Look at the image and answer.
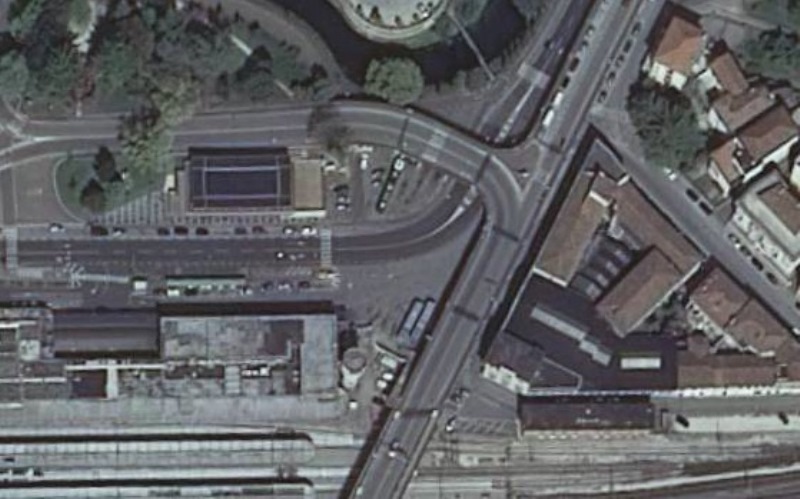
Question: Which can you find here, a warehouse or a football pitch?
warehouse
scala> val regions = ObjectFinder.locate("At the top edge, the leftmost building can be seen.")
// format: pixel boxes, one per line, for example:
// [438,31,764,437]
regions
[642,14,708,93]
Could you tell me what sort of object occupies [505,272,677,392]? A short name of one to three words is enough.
warehouse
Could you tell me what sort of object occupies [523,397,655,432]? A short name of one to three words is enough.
shed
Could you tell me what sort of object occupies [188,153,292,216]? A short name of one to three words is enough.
building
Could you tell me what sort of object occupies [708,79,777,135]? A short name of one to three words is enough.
house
